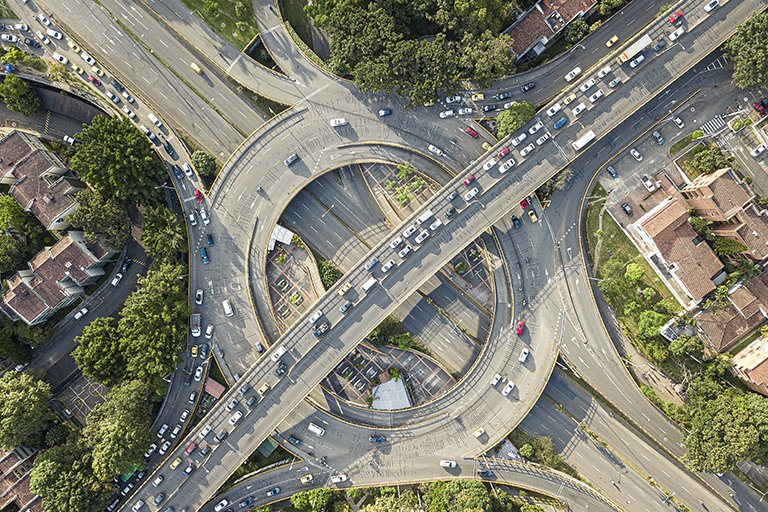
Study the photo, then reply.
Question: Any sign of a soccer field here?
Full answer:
No, the picture doesn't show any soccer field.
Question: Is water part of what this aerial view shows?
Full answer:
No, water can't be seen anywhere here.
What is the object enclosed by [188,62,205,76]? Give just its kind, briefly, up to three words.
vehicle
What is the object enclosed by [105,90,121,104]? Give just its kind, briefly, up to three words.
car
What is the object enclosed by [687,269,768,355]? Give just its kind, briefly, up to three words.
house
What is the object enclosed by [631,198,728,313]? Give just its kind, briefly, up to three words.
house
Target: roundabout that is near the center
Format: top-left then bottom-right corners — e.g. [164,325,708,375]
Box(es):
[203,76,564,493]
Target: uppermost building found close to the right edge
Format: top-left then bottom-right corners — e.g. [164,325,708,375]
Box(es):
[683,168,760,232]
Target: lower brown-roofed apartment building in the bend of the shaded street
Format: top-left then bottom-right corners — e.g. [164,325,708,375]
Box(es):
[4,238,122,325]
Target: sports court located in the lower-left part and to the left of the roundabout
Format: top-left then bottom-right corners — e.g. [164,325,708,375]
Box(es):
[56,376,115,424]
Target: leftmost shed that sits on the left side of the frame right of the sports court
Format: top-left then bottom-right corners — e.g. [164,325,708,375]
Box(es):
[202,375,228,400]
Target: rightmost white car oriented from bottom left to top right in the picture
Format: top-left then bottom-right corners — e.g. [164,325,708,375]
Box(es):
[751,143,766,157]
